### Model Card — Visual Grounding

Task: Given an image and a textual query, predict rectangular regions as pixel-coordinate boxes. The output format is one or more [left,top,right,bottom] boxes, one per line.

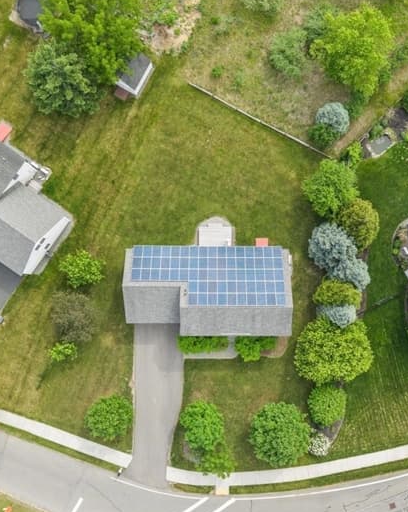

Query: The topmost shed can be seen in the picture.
[110,46,155,102]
